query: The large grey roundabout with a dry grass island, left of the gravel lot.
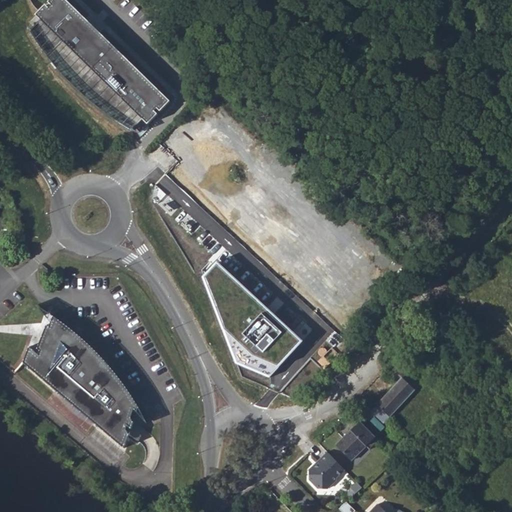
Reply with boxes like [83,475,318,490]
[50,174,132,255]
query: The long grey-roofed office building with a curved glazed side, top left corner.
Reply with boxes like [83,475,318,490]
[30,0,170,130]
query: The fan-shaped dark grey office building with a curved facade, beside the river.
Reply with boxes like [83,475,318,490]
[24,304,147,446]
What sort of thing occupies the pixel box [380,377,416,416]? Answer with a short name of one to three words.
house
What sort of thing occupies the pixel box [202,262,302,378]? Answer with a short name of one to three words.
building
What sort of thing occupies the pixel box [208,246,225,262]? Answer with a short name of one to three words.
vehicle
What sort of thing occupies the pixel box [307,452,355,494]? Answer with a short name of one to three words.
house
